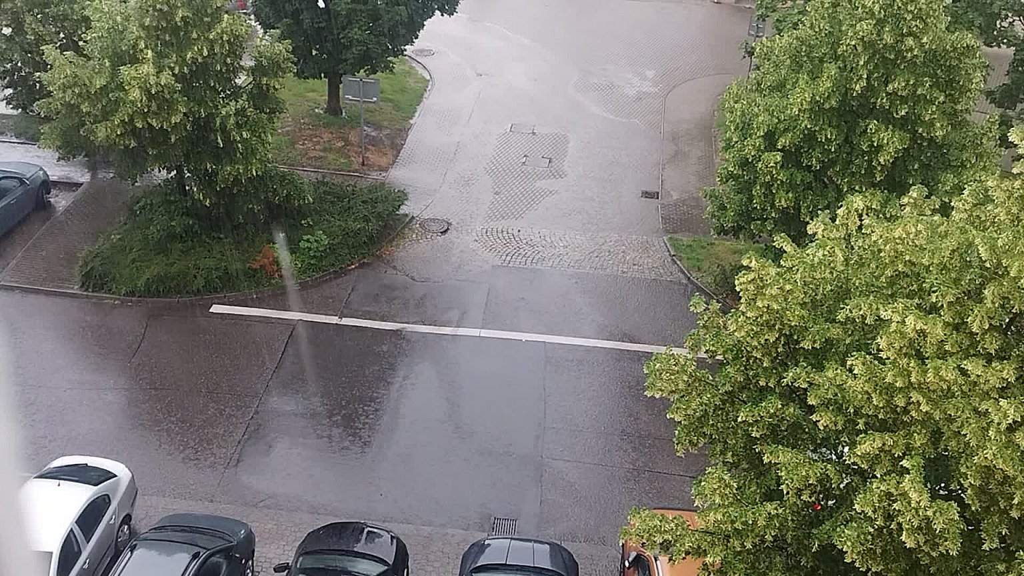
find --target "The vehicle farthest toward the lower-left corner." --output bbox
[0,451,143,576]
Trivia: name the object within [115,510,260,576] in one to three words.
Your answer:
car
